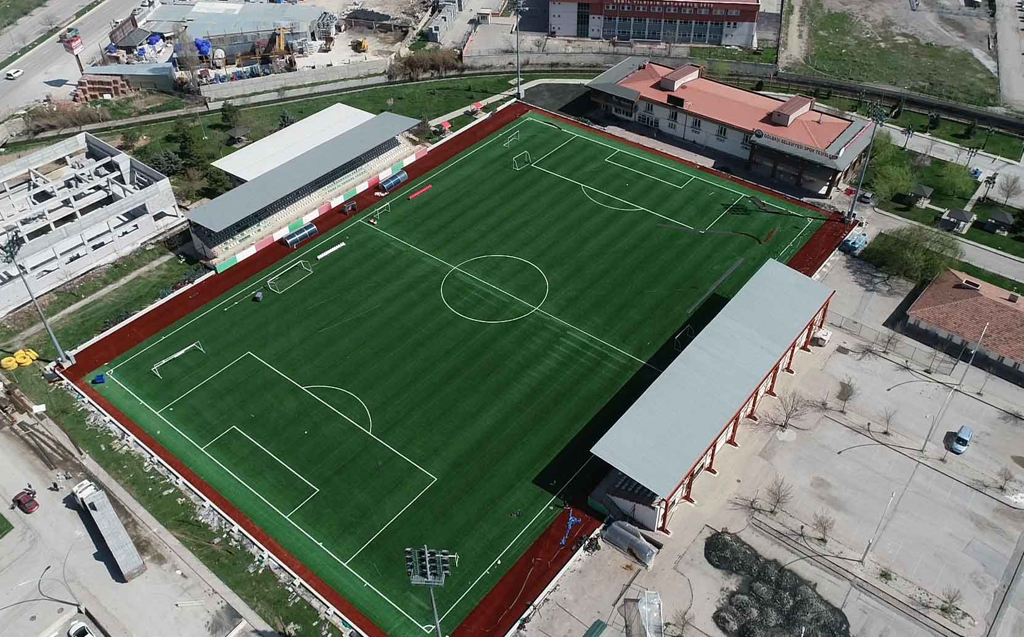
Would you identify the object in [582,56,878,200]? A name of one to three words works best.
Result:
building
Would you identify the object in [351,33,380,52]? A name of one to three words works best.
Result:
work vehicle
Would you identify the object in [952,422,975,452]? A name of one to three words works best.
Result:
vehicle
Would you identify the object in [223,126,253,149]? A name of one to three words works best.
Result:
gazebo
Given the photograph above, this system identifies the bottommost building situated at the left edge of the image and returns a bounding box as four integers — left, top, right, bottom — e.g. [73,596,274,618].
[0,129,186,320]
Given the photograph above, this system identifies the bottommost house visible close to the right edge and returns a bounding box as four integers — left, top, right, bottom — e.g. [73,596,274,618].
[897,269,1024,384]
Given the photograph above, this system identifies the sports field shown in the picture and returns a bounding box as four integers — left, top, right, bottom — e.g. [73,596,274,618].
[105,117,823,637]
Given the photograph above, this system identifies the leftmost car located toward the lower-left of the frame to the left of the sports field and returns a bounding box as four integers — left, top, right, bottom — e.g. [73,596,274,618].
[10,493,41,515]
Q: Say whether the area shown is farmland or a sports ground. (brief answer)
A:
sports ground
